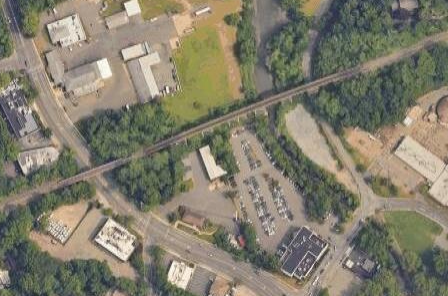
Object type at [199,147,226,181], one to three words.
shed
